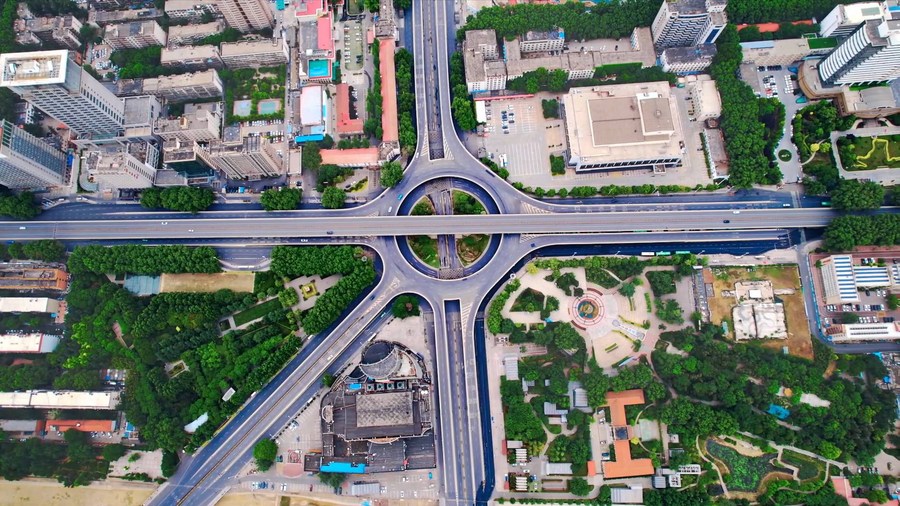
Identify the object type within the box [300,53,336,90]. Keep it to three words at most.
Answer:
building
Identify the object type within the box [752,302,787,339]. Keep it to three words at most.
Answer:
building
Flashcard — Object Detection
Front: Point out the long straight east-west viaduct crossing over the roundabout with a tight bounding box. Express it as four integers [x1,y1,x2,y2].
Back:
[0,206,899,240]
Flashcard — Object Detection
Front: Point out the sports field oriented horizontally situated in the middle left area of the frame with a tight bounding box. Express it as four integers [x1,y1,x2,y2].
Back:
[161,272,255,294]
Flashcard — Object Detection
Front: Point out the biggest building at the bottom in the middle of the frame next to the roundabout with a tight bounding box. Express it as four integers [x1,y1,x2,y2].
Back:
[305,336,436,471]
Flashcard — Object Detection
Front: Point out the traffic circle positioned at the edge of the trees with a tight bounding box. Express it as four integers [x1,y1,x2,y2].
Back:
[330,131,576,330]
